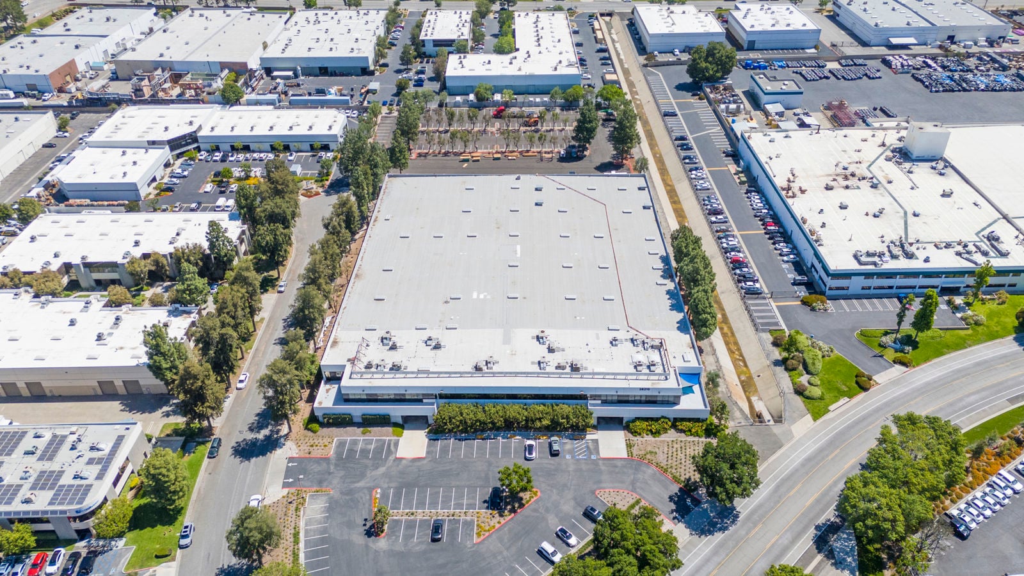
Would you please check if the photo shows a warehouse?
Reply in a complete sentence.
Yes, a warehouse is visible in the scene.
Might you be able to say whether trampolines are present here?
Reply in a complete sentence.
No, the photo shows no trampoline.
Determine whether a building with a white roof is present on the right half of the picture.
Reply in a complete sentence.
Yes, looking on the right half of the picture, one can make out a building with a white roof.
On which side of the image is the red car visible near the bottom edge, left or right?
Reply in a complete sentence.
The red car visible near the bottom edge sits on the left side.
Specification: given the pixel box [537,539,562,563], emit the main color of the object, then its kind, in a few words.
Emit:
white car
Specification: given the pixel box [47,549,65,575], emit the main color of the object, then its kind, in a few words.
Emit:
white car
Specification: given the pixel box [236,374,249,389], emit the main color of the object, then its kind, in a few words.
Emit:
white vehicle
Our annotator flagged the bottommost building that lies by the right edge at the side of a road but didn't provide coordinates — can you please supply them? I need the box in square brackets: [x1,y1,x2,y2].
[738,126,1024,298]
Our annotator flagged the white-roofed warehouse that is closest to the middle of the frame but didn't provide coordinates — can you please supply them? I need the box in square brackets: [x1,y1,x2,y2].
[314,174,709,426]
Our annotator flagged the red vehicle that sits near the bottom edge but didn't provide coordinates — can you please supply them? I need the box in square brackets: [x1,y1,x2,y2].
[28,550,48,576]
